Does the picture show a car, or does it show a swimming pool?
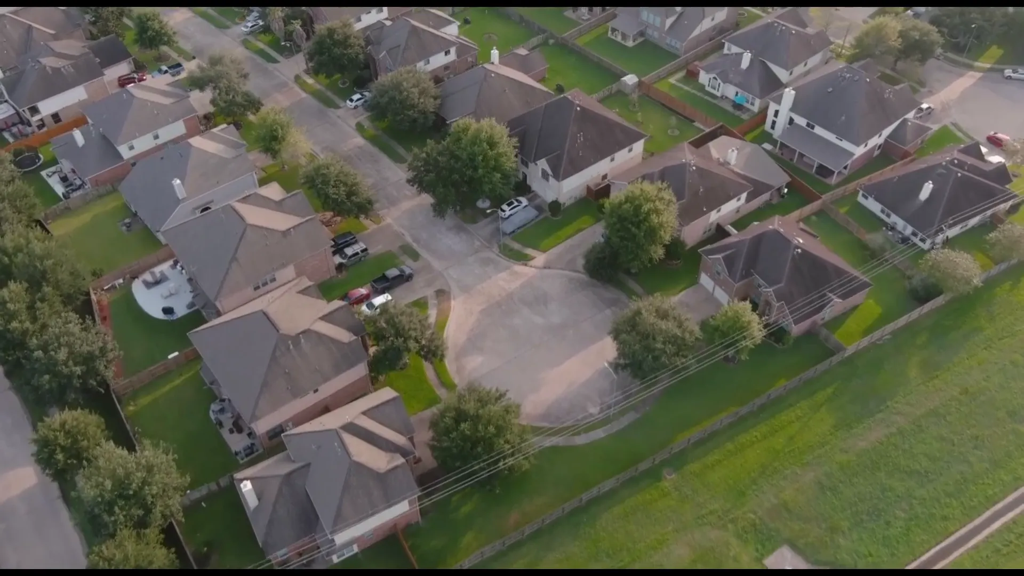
car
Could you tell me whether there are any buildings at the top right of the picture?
Yes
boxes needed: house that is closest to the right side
[856,137,1020,254]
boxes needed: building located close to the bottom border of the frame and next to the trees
[231,387,422,568]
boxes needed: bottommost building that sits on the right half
[696,212,875,342]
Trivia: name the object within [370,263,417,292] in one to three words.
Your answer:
truck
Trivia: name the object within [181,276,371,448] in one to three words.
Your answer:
house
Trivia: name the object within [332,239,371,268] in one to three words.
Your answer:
car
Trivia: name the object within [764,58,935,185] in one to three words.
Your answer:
house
